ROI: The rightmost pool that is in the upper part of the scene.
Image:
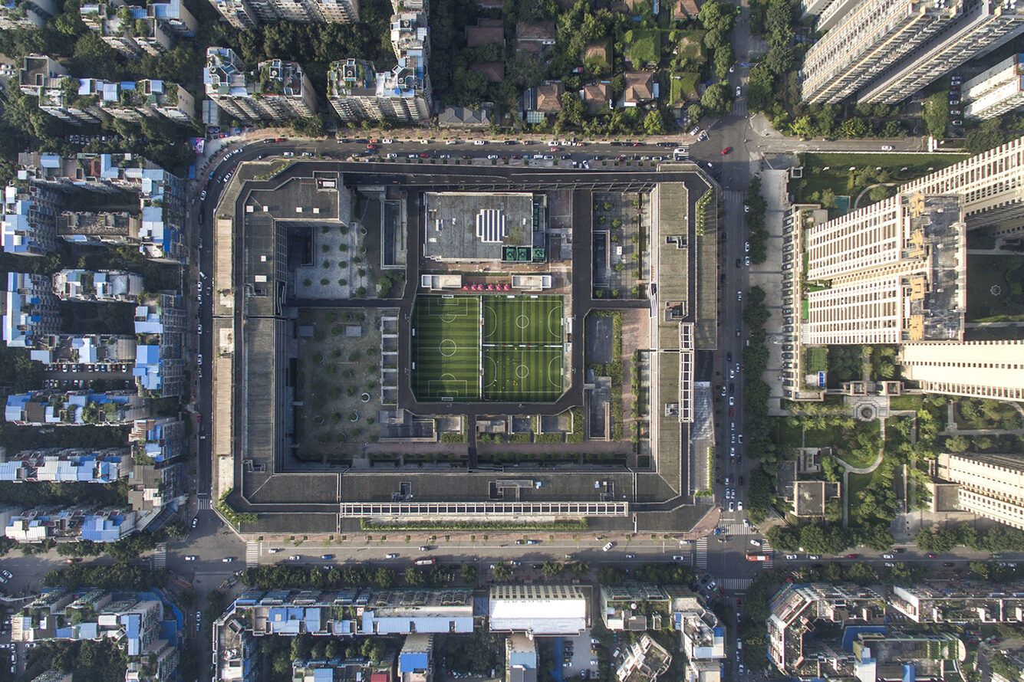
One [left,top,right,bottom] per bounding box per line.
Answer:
[833,195,851,217]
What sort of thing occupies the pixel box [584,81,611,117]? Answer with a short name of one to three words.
house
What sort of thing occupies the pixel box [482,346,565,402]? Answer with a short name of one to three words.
soccer field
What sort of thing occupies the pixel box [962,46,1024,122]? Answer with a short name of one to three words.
building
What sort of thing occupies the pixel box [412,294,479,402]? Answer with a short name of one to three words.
soccer field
